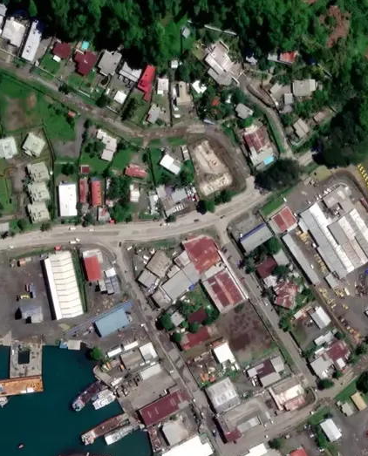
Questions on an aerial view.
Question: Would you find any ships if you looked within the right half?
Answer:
No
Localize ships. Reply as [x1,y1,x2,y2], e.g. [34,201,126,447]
[80,415,128,443]
[103,425,132,445]
[93,390,113,403]
[0,376,43,396]
[92,396,114,411]
[72,383,108,409]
